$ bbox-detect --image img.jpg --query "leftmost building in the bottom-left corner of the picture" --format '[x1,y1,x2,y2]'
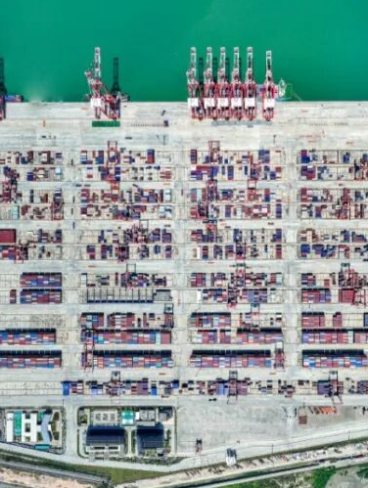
[21,410,41,443]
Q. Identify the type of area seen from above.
port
